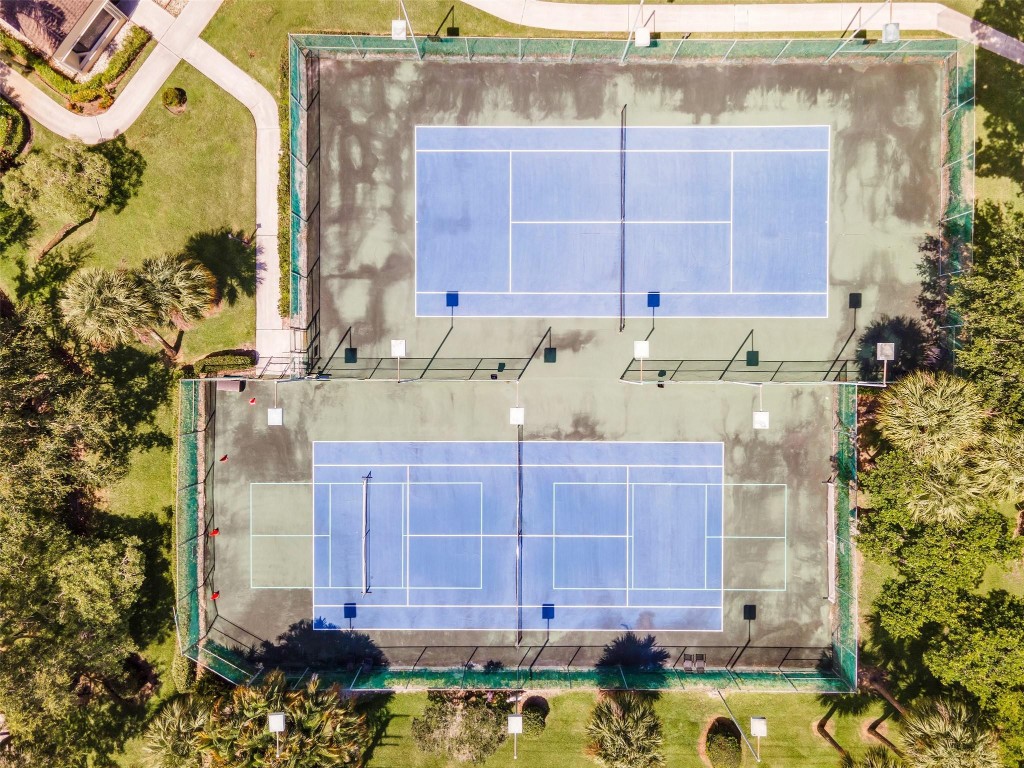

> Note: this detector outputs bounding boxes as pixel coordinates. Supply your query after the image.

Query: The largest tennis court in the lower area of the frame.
[205,379,835,670]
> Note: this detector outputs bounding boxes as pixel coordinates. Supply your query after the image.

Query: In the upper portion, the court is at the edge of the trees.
[308,60,942,380]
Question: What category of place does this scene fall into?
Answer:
sports ground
